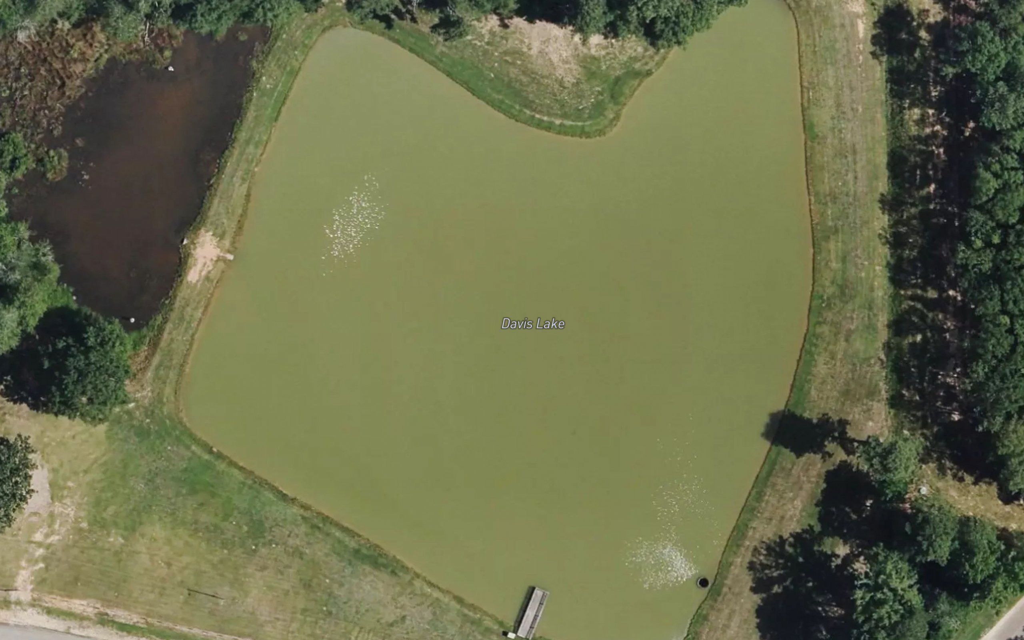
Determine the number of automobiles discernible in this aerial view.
none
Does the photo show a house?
No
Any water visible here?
Yes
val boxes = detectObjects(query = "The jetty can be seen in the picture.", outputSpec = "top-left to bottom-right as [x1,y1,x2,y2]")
[517,587,549,640]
